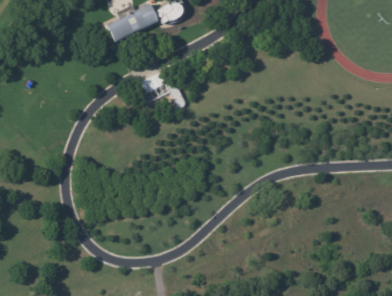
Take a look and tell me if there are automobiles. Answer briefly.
No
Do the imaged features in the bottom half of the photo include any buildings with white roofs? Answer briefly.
No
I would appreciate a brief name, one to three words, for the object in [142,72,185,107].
house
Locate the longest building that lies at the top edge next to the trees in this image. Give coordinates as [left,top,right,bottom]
[107,6,159,42]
